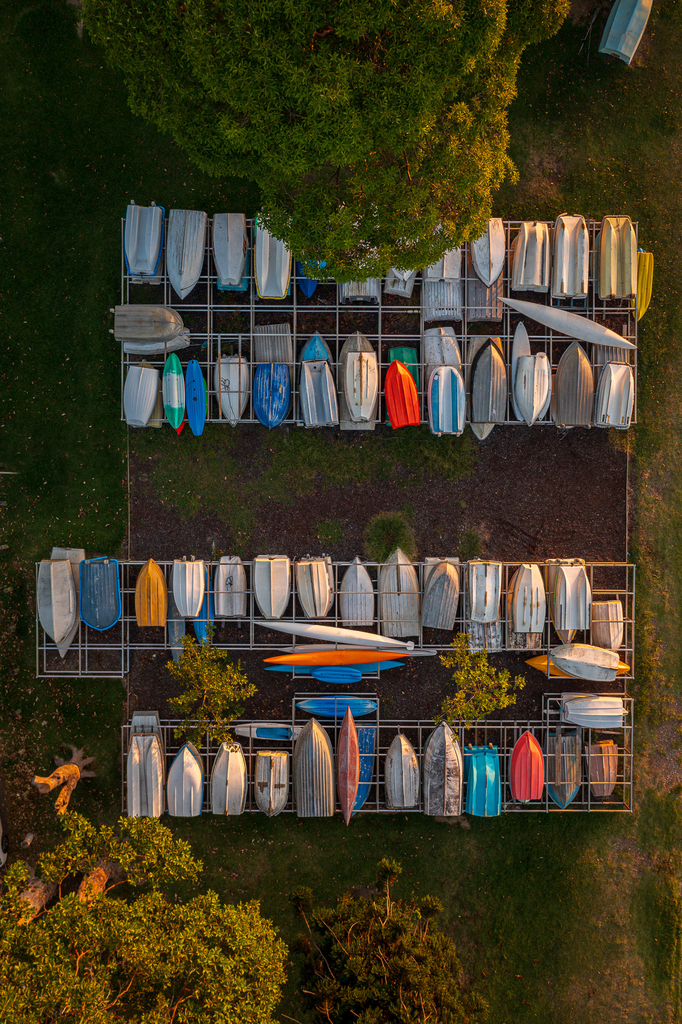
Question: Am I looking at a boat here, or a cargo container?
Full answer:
Looking from above, you can make out a boat.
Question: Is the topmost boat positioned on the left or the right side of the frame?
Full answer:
The topmost boat is on the right side of the image.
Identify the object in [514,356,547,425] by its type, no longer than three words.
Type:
boat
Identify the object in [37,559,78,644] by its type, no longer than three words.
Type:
boat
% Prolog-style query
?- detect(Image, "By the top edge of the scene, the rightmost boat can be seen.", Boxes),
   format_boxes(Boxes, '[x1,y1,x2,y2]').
[599,0,650,63]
